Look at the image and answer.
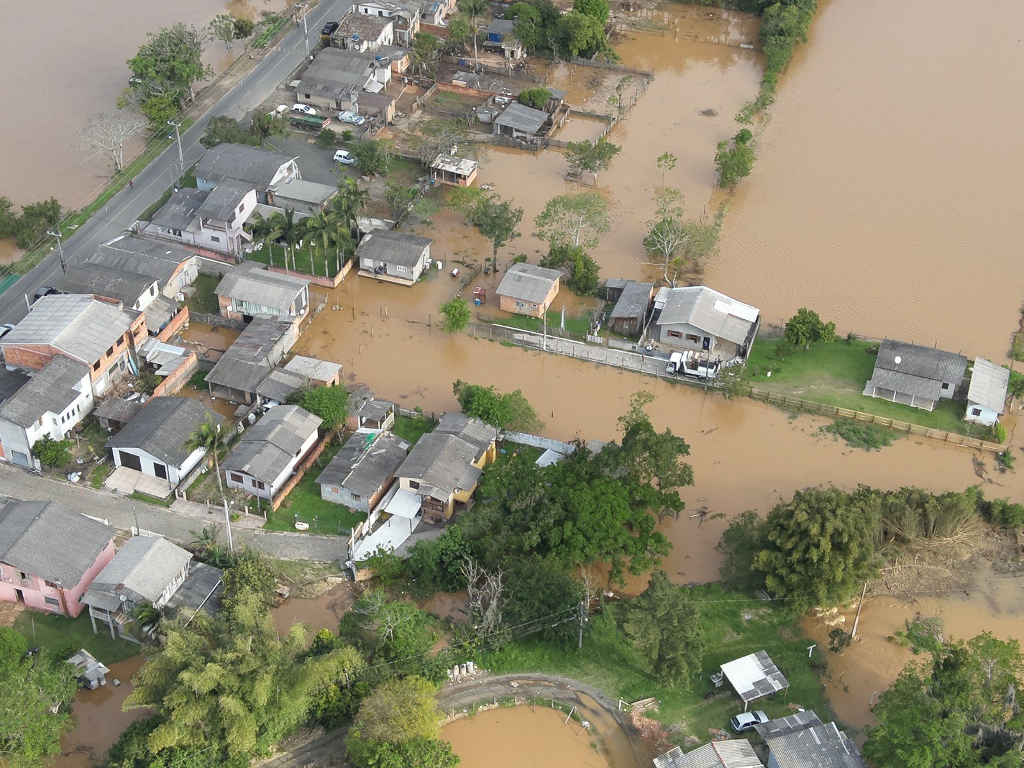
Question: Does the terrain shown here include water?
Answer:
Yes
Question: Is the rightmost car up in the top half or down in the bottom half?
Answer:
bottom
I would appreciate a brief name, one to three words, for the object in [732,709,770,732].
car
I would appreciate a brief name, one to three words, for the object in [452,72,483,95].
shed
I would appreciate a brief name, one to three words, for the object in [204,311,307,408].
building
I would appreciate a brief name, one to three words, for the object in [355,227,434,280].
house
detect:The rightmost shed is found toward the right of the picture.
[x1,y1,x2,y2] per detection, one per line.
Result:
[966,358,1013,427]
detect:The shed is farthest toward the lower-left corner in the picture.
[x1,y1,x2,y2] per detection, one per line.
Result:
[67,649,108,691]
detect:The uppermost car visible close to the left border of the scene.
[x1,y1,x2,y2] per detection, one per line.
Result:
[27,281,58,299]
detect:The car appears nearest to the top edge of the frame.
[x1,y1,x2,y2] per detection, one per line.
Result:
[319,18,342,32]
